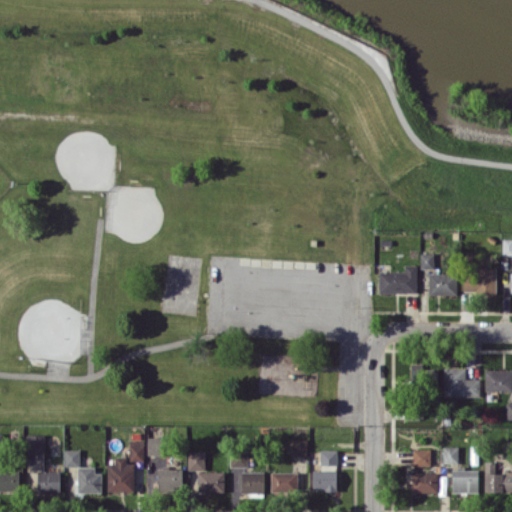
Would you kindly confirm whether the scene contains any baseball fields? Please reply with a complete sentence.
Yes, looking at the shot, I can spot a baseball field.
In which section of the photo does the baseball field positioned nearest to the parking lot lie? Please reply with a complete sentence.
You can find the baseball field positioned nearest to the parking lot in the left area of the picture.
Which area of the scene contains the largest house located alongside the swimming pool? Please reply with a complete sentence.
Look in the bottom left portion of the view to spot the largest house located alongside the swimming pool.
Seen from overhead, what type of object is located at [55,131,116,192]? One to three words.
baseball field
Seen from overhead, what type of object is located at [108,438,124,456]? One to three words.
swimming pool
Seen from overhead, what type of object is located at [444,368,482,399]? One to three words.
house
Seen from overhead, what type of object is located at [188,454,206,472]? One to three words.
building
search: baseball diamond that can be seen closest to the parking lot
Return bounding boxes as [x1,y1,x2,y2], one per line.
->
[105,186,164,243]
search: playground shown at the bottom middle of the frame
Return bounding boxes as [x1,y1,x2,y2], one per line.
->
[258,356,318,397]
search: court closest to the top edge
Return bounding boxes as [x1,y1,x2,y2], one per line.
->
[162,256,202,317]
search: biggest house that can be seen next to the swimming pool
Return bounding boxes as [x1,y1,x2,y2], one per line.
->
[107,460,134,495]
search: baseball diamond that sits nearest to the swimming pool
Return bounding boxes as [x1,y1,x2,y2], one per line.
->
[18,299,80,363]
